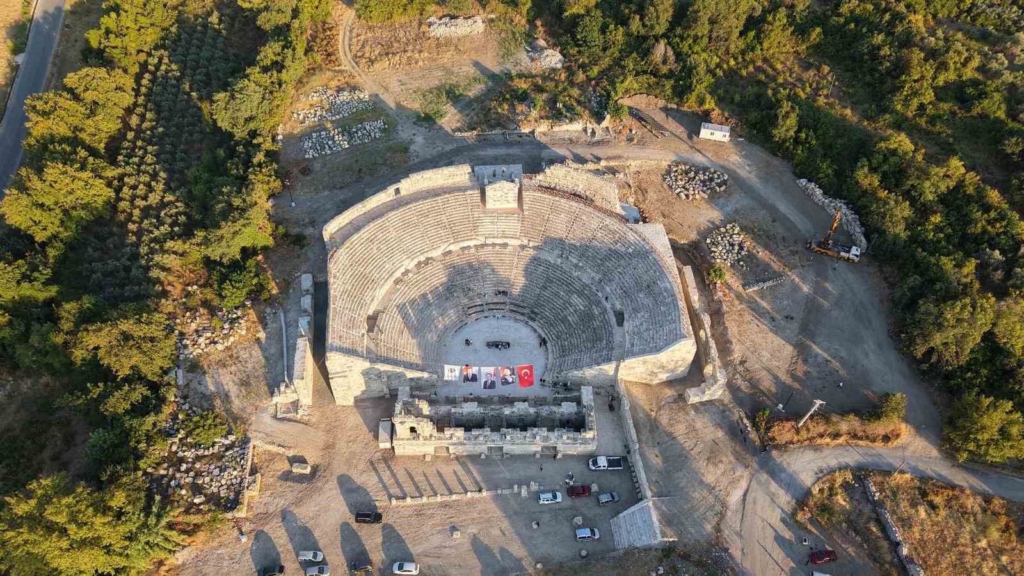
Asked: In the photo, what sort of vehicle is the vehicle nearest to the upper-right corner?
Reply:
truck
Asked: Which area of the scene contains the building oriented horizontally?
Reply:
bottom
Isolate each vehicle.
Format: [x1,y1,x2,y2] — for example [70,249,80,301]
[808,214,862,265]
[347,559,376,574]
[538,491,562,504]
[393,561,419,575]
[574,527,600,541]
[809,570,837,576]
[258,564,288,576]
[588,455,622,469]
[565,485,592,498]
[304,564,333,576]
[354,510,382,524]
[596,491,620,506]
[297,549,326,563]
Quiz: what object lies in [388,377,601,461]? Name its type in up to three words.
building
